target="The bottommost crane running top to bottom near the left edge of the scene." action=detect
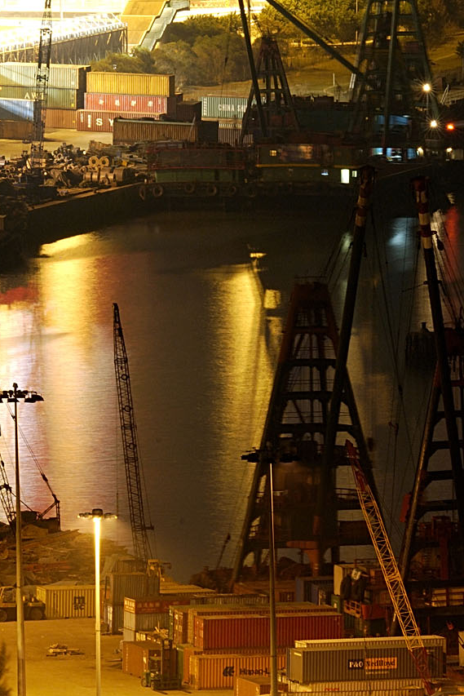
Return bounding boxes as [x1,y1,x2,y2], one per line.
[0,374,58,517]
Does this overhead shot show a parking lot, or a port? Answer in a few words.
port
